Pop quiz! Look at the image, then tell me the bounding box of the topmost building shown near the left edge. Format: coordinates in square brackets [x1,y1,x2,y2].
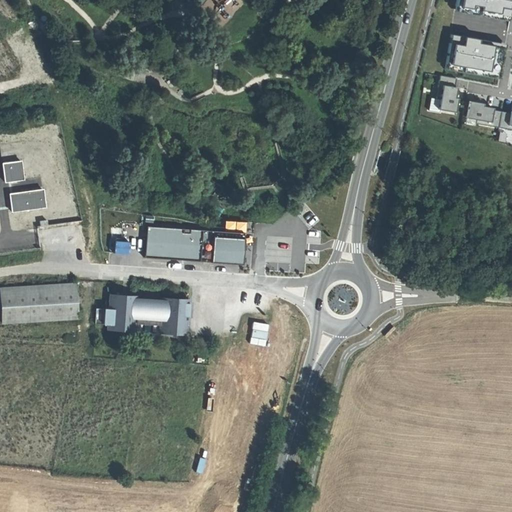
[2,161,26,184]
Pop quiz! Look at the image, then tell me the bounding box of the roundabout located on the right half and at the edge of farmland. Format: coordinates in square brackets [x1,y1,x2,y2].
[284,215,418,368]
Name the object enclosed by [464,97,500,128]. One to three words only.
house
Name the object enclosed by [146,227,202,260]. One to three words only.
building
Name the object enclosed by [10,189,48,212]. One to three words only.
building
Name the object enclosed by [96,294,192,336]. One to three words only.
house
